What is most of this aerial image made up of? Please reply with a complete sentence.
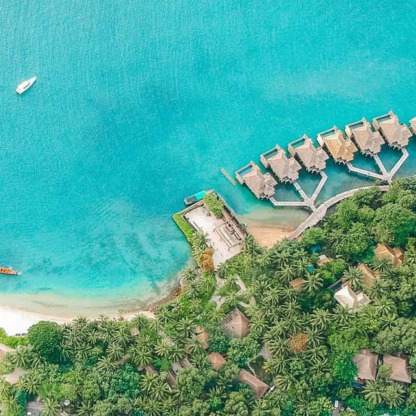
For the most part, this view shows water.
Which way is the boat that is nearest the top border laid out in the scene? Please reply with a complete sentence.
What the image shows is the boat that is nearest the top border lying at an angle.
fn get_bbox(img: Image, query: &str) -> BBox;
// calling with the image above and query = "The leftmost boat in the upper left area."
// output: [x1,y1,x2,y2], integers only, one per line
[14,76,36,97]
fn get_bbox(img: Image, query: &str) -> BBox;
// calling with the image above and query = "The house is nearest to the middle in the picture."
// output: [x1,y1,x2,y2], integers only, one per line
[233,164,278,205]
